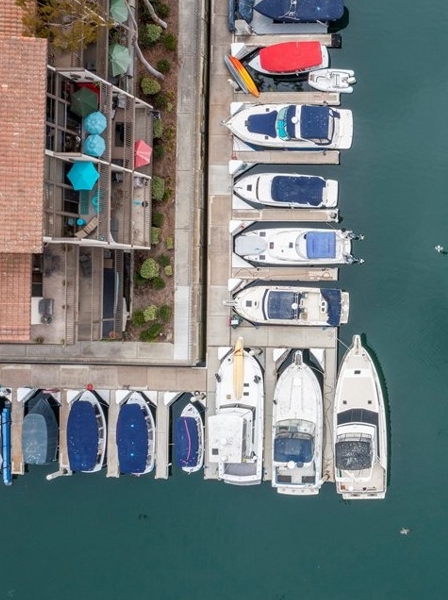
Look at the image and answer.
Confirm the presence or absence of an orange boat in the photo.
Yes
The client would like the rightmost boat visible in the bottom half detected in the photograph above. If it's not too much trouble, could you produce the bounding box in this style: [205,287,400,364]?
[333,335,390,500]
